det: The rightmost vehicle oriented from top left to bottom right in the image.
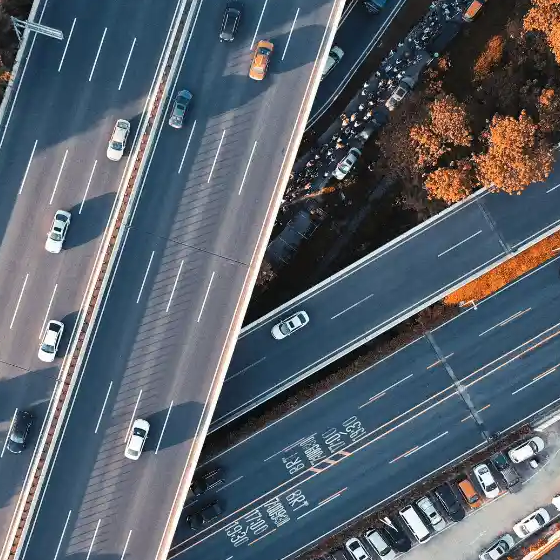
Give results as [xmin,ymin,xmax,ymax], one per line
[489,447,525,492]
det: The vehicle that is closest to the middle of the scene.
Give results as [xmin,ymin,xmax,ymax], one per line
[271,310,308,340]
